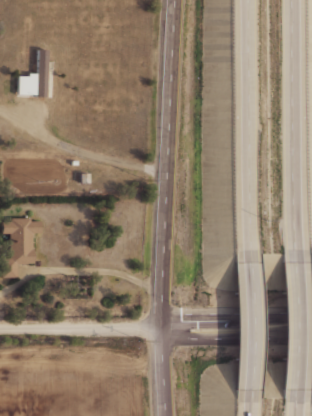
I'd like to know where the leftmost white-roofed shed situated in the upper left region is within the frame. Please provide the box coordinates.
[18,74,40,97]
